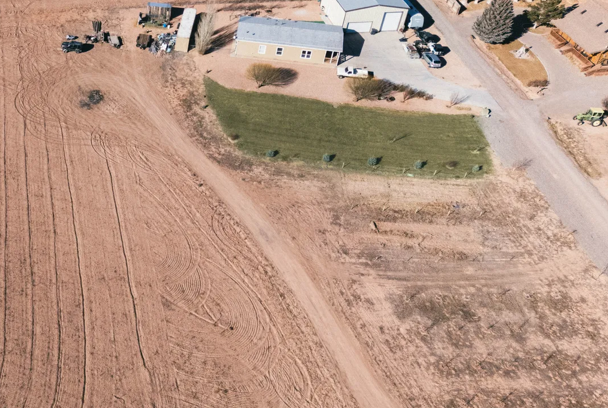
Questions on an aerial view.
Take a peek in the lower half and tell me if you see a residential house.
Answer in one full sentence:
No, there's no residential house to be seen in the lower half.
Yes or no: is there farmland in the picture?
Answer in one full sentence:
Yes, there is farmland in the image.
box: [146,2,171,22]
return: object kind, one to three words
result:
shed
